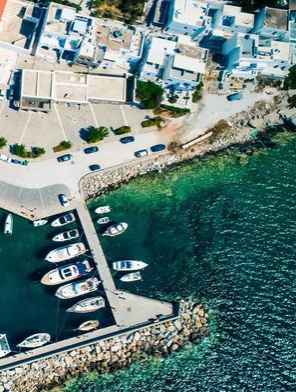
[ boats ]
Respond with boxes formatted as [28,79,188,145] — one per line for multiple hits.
[117,273,142,288]
[3,214,12,236]
[52,229,80,242]
[56,279,103,298]
[50,213,77,227]
[103,222,128,236]
[95,206,111,214]
[111,260,148,276]
[62,296,110,336]
[32,220,48,226]
[44,241,89,262]
[0,336,10,355]
[41,260,91,284]
[96,217,110,224]
[16,334,56,351]
[73,321,99,331]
